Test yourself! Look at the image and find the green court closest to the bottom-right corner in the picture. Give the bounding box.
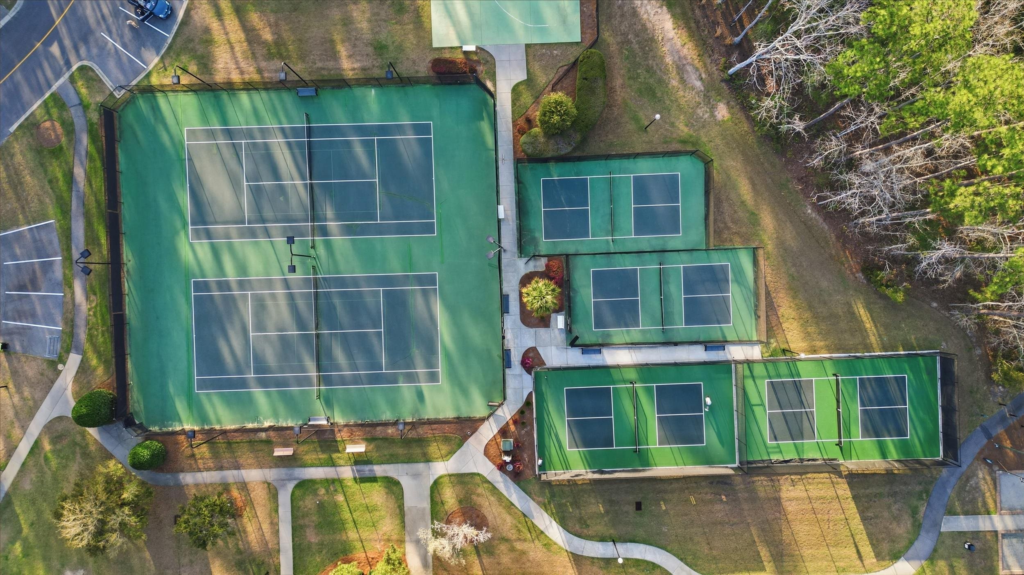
[734,352,941,465]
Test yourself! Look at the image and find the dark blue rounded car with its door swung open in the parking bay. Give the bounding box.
[131,0,172,24]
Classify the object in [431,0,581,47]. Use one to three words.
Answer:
basketball court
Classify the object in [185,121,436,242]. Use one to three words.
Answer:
tennis court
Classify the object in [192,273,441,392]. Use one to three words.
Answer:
tennis court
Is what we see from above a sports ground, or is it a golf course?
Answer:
sports ground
